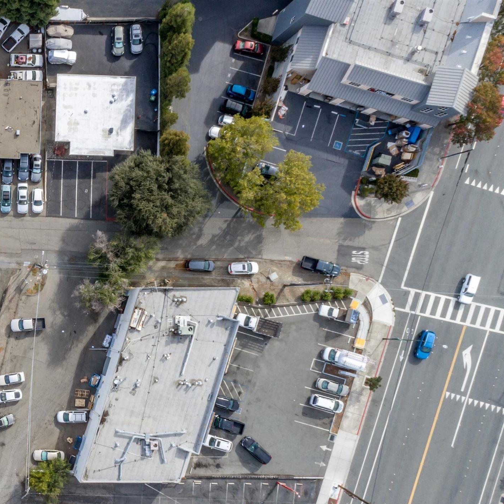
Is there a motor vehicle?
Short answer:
Yes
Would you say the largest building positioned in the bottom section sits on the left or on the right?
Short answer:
left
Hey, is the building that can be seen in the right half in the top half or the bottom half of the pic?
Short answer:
top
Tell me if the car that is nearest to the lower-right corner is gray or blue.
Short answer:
blue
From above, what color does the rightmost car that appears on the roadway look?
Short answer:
white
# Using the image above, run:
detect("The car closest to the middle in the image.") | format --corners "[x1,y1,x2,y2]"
[227,260,259,274]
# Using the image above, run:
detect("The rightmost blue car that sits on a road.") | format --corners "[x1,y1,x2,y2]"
[415,330,436,360]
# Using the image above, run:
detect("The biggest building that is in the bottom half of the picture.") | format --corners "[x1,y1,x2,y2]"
[74,288,241,484]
